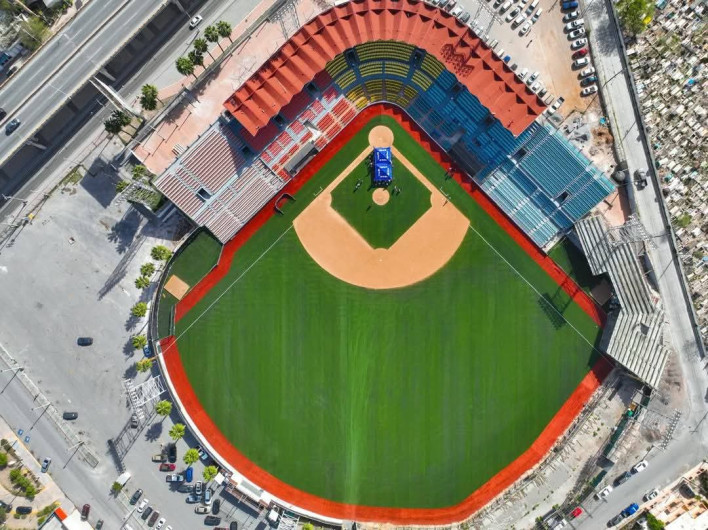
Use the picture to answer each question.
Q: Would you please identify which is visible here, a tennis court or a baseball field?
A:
baseball field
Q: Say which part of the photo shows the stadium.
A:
top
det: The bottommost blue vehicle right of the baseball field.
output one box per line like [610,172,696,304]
[621,503,639,518]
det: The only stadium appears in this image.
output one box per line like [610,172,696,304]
[152,0,624,252]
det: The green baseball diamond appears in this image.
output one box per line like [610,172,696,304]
[156,102,615,524]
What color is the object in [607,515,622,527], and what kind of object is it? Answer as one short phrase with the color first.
gray vehicle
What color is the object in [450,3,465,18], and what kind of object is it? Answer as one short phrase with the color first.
white vehicle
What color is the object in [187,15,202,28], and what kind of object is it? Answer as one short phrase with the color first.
white vehicle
